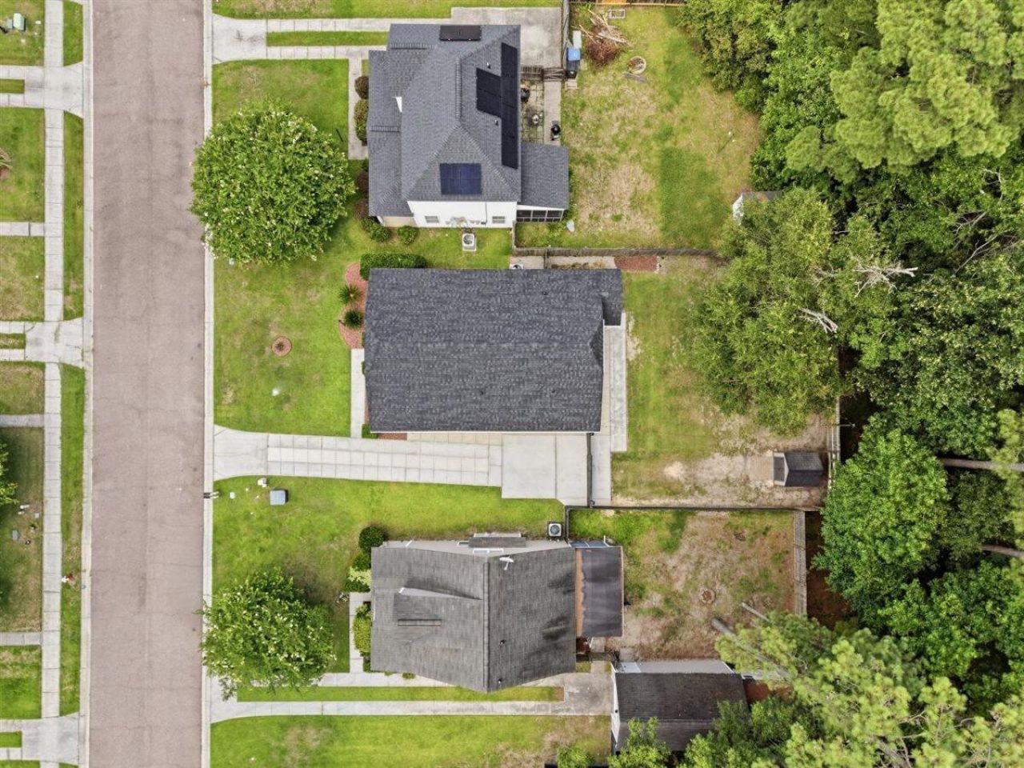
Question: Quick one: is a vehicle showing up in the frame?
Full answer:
No, there is no vehicle in the image.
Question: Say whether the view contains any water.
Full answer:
No, there is no water in the image.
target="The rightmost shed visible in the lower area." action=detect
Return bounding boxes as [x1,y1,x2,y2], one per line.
[774,451,827,485]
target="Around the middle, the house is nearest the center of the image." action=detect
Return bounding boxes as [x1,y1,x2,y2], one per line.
[364,269,624,434]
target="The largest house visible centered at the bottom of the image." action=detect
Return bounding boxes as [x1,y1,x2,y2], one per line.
[372,534,624,692]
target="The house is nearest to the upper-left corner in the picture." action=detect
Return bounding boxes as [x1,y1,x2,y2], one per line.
[365,22,568,226]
